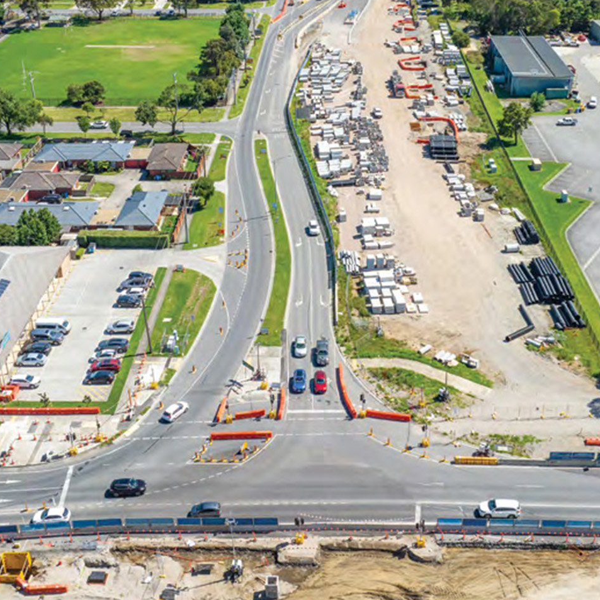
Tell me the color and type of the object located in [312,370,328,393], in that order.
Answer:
red car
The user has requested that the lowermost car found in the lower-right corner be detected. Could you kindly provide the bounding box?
[477,497,522,519]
